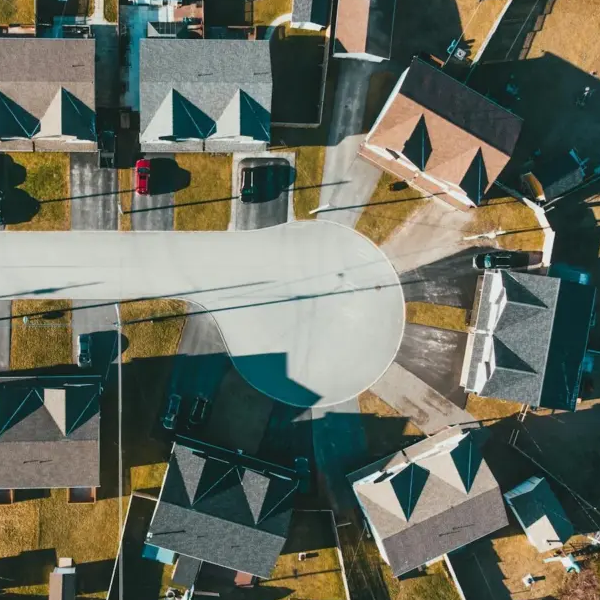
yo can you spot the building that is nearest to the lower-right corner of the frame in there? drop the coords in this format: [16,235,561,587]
[511,473,576,550]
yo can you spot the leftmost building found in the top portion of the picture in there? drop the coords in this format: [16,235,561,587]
[0,38,101,153]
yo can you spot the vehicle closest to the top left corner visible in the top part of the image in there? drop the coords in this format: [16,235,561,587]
[99,127,116,169]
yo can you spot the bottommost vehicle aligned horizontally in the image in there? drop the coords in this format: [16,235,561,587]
[473,251,516,270]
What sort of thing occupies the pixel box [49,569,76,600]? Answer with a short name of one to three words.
shed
